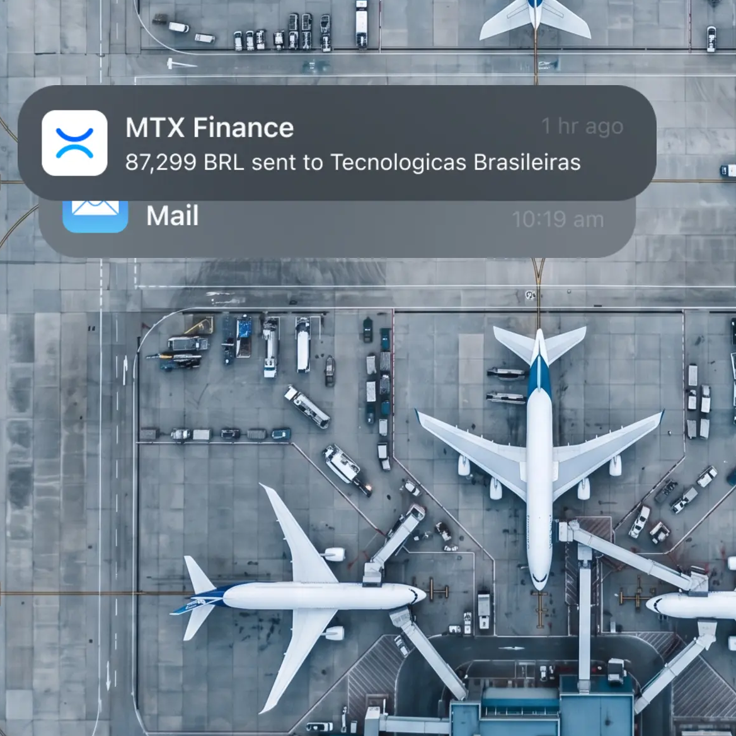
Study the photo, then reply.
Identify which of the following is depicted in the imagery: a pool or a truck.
truck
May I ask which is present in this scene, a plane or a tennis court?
plane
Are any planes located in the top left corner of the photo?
No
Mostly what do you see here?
paved ground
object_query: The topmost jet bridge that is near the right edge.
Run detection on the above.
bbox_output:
[553,517,709,594]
